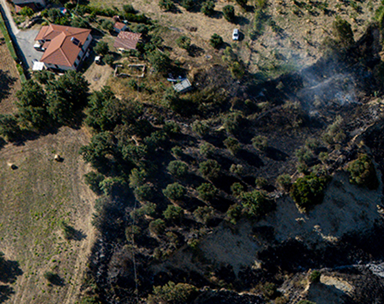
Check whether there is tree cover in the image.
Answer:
Yes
